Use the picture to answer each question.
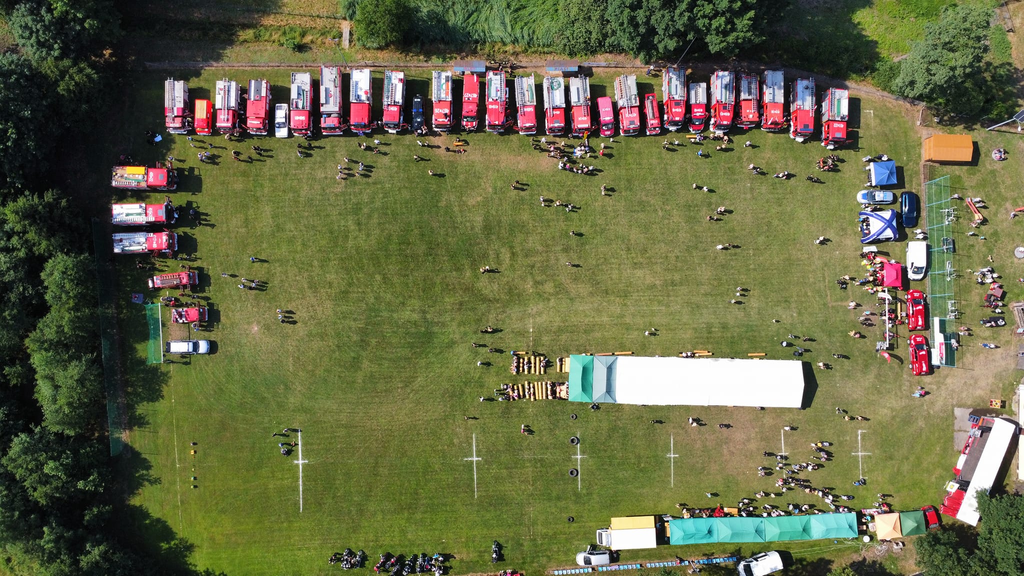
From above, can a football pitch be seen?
Yes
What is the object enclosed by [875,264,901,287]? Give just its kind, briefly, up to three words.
gazebo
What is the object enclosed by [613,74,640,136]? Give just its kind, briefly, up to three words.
truck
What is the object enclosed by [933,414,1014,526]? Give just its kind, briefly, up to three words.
trailer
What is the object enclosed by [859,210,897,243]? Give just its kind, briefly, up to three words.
tent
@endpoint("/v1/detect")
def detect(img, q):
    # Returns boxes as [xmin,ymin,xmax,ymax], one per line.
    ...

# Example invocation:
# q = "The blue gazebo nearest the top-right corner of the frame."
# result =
[863,161,897,189]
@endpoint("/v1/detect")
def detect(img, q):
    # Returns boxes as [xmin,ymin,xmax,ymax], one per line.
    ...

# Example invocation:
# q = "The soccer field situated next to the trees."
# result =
[150,106,895,559]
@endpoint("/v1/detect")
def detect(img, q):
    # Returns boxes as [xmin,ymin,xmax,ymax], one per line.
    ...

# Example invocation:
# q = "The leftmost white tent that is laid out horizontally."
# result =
[614,355,804,408]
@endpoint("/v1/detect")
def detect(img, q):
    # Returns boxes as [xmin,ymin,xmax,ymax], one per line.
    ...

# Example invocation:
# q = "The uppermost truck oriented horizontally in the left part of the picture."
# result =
[111,162,180,191]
